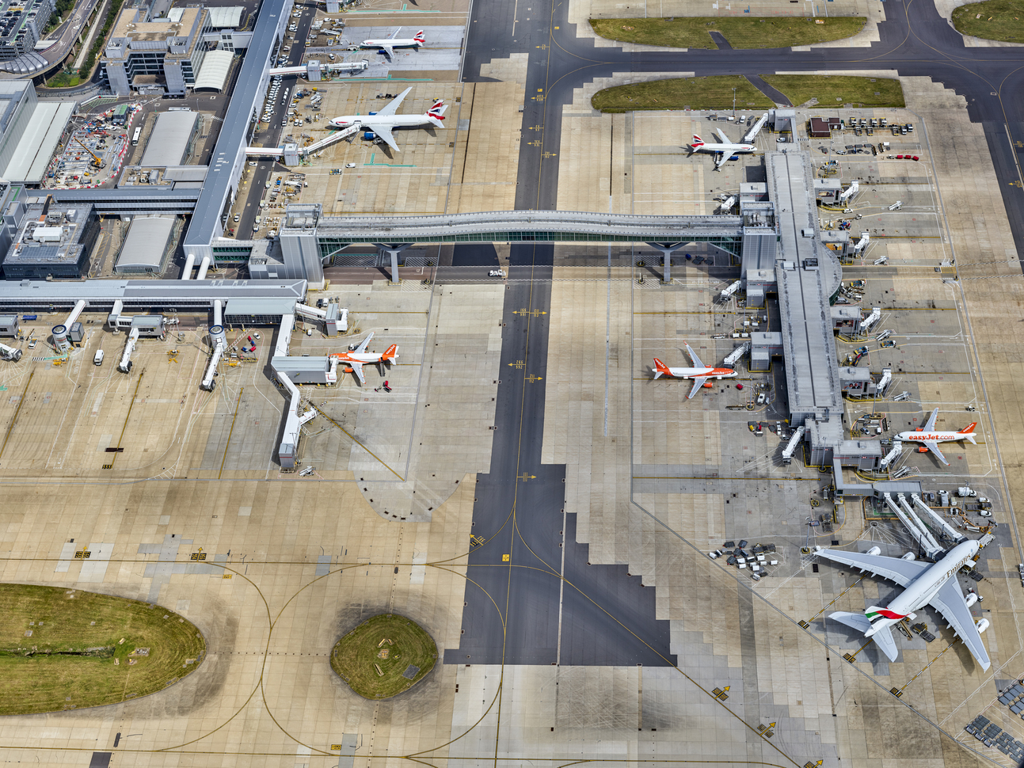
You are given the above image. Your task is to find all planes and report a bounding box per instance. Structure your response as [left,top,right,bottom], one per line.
[329,89,447,149]
[651,342,738,397]
[689,128,757,167]
[360,25,425,59]
[328,332,399,379]
[815,538,994,663]
[894,407,980,463]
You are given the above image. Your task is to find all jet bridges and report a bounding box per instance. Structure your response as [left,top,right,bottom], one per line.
[202,340,223,393]
[839,179,859,211]
[881,494,943,562]
[119,328,140,373]
[743,113,769,145]
[301,407,323,436]
[0,340,22,362]
[853,230,870,262]
[780,425,805,464]
[874,365,892,401]
[720,194,738,217]
[302,120,365,164]
[721,340,751,370]
[859,305,881,340]
[324,59,370,78]
[909,494,967,545]
[895,494,949,558]
[878,438,902,477]
[324,354,341,392]
[336,305,351,339]
[719,280,743,303]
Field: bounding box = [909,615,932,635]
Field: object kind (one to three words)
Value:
work vehicle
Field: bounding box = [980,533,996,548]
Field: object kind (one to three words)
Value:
work vehicle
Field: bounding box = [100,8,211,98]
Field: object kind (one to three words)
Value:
building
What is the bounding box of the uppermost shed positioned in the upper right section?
[806,117,841,140]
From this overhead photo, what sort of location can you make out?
airport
